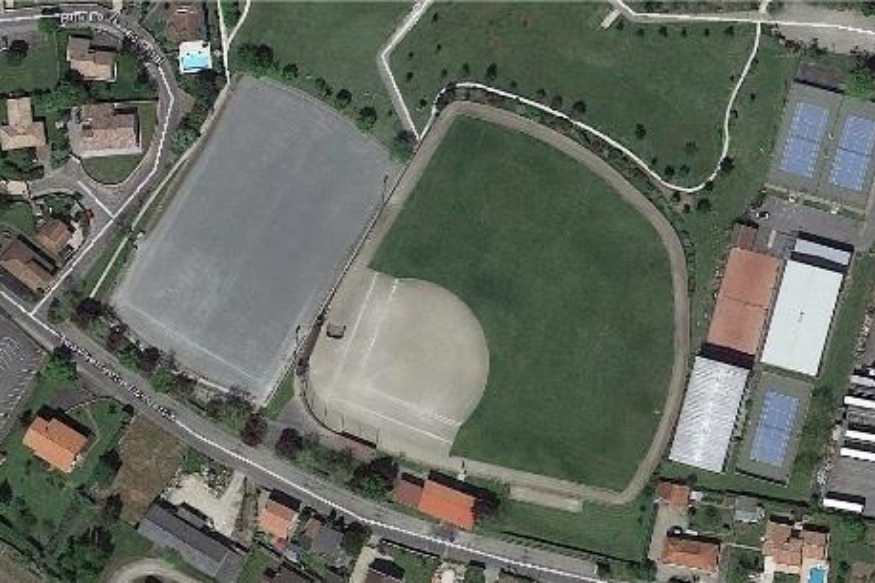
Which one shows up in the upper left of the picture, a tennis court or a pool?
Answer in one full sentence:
There is a pool in the upper left of the picture.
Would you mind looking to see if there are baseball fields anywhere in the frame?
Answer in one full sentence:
Yes, a baseball field can be made out from above.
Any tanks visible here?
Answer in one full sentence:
No, there isn't any tank down there.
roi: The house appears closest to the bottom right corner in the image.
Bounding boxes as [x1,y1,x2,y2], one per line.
[766,522,828,563]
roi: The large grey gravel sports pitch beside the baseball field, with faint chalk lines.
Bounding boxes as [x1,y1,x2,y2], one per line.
[109,76,391,405]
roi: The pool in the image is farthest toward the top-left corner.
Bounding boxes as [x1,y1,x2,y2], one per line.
[180,42,213,73]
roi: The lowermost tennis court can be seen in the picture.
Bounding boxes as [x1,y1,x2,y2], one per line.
[736,371,813,486]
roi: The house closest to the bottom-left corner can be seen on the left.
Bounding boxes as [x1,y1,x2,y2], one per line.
[22,415,85,470]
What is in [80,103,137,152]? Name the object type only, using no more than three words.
house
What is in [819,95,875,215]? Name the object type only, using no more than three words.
tennis court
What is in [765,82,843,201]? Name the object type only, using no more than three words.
tennis court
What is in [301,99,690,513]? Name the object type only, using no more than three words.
baseball field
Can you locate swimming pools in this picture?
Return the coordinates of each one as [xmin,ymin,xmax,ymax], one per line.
[180,42,213,73]
[808,568,826,583]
